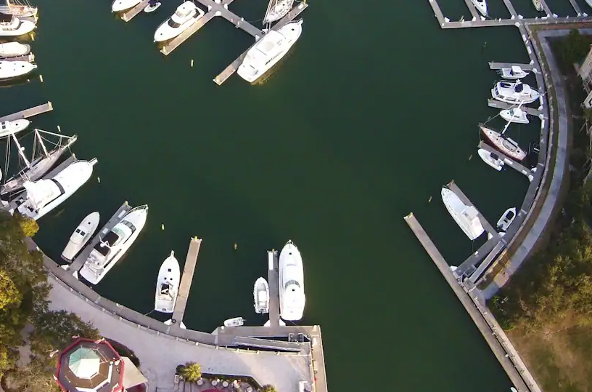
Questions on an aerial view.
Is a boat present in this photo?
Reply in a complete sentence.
Yes, I can see a boat in this picture.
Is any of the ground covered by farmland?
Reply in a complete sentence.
No, there's no farmland in this view.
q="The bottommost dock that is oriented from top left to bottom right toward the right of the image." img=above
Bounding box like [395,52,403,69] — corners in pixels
[403,215,531,392]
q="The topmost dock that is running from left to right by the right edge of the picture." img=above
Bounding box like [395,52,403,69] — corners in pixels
[438,15,592,32]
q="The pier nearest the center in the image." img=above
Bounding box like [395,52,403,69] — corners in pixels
[260,251,289,327]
